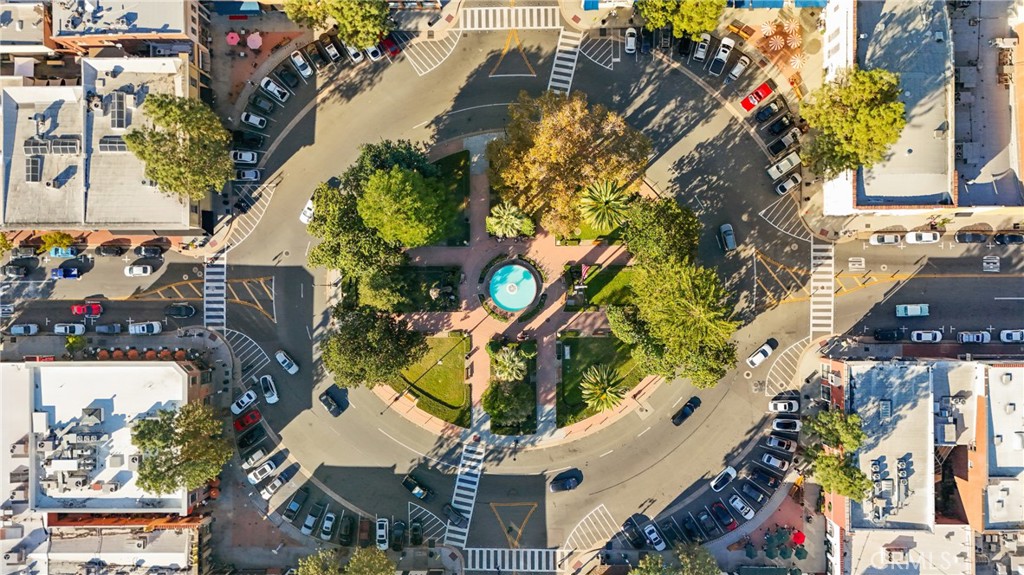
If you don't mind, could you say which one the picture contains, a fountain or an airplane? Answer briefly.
fountain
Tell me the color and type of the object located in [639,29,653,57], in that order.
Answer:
black car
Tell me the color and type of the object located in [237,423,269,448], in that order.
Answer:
black car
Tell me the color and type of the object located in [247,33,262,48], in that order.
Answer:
pink umbrella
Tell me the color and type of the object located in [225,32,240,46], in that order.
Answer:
pink umbrella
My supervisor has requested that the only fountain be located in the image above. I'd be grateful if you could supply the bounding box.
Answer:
[485,260,541,316]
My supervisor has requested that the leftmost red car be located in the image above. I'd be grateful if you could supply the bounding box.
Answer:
[72,302,105,316]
